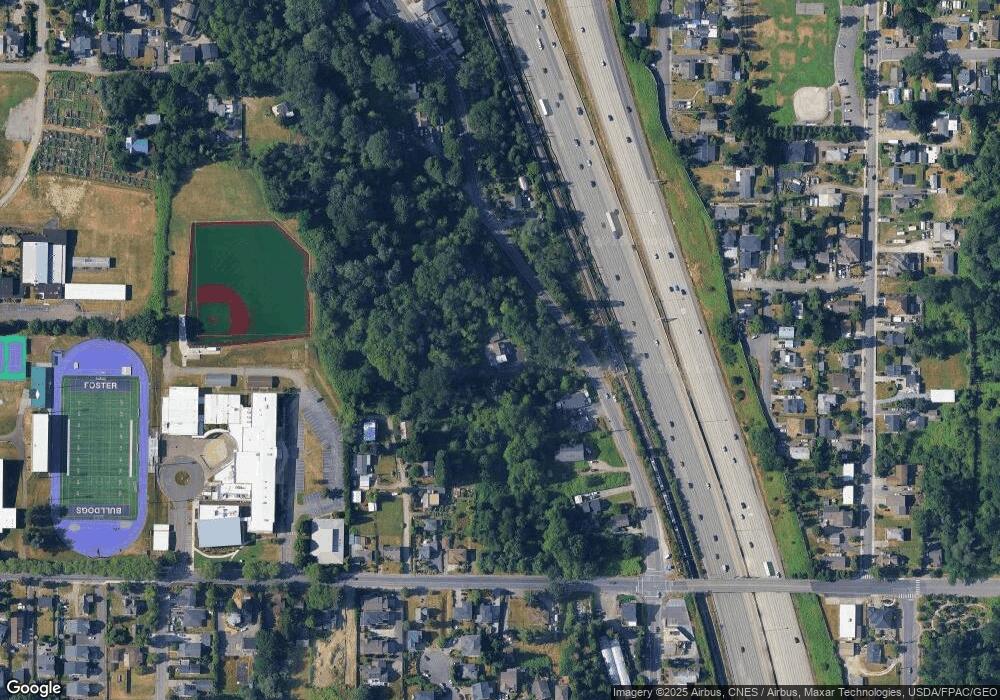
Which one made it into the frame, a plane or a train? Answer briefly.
train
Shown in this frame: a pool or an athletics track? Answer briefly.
athletics track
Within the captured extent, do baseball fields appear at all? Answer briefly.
Yes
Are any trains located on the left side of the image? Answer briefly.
No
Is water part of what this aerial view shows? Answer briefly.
No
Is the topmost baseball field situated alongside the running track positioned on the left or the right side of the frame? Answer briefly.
left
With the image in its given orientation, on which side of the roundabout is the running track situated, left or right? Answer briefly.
left of it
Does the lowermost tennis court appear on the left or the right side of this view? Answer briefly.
left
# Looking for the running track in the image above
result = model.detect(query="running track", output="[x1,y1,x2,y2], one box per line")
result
[52,337,150,557]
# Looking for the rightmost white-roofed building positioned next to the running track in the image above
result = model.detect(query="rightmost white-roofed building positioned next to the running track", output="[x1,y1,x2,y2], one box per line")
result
[162,387,279,547]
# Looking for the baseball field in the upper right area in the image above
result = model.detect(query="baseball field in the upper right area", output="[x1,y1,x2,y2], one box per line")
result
[793,88,829,125]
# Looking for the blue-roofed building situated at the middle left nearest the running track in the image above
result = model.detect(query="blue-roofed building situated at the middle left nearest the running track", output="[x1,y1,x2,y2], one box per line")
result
[31,367,46,408]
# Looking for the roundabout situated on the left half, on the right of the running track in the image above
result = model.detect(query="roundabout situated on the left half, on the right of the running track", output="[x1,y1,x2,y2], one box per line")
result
[159,456,204,501]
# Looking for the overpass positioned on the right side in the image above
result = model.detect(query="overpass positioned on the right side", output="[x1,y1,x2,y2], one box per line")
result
[684,577,807,593]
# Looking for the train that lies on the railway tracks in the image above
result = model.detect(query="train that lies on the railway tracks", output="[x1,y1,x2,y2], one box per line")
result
[650,457,688,562]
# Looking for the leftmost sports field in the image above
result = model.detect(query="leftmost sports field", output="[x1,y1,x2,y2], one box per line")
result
[60,375,139,519]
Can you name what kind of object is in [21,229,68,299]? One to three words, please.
building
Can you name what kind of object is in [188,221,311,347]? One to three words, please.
baseball field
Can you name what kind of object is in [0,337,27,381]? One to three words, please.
tennis court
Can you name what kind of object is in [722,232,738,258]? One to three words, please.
house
